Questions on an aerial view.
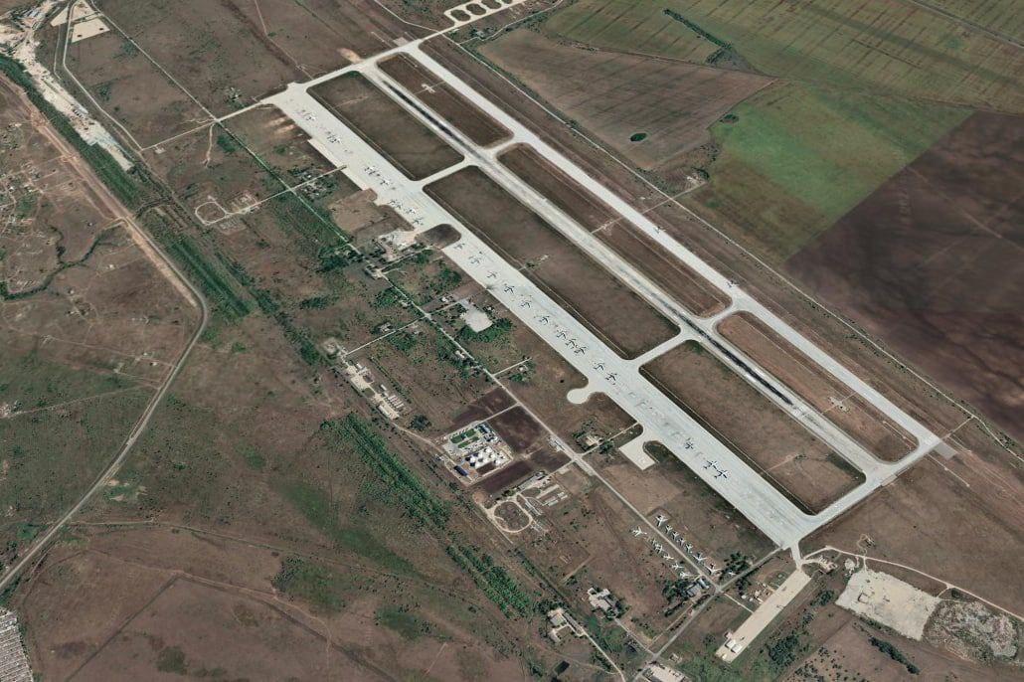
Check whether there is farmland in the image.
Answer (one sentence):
Yes, there's farmland in this view.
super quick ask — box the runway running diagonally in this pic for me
[349,57,904,489]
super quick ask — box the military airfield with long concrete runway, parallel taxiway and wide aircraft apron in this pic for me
[260,0,956,663]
